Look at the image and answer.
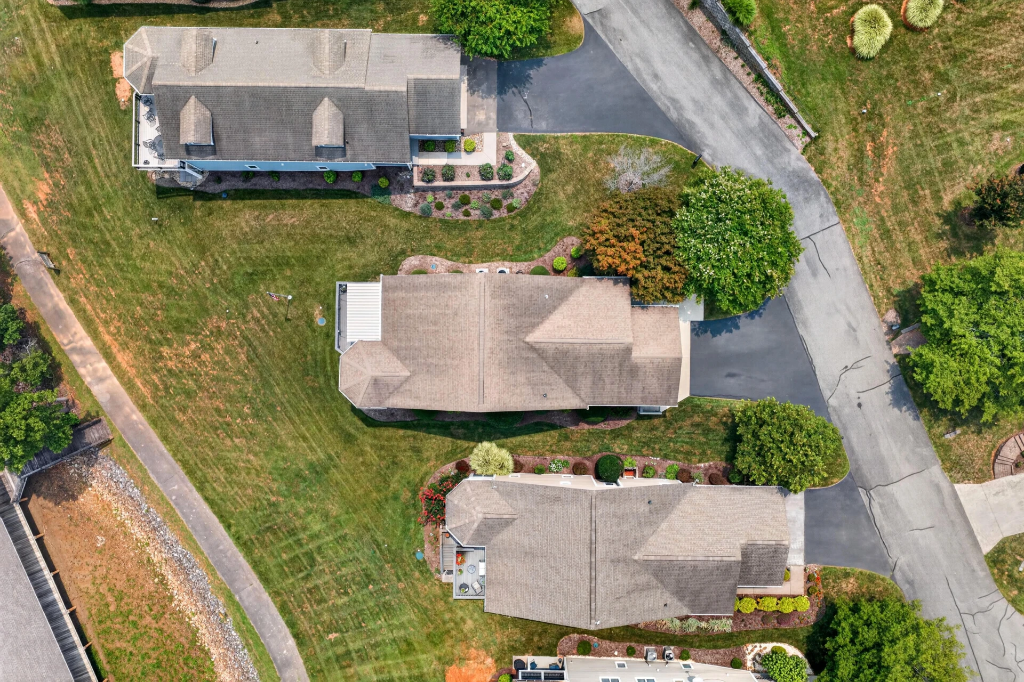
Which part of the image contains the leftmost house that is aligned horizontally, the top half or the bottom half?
top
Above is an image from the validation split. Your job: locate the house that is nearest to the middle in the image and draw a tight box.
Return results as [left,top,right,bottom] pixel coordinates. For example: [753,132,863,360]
[338,272,683,419]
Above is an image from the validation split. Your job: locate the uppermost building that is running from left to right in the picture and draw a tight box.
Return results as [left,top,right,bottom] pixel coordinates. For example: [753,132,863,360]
[122,25,464,171]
